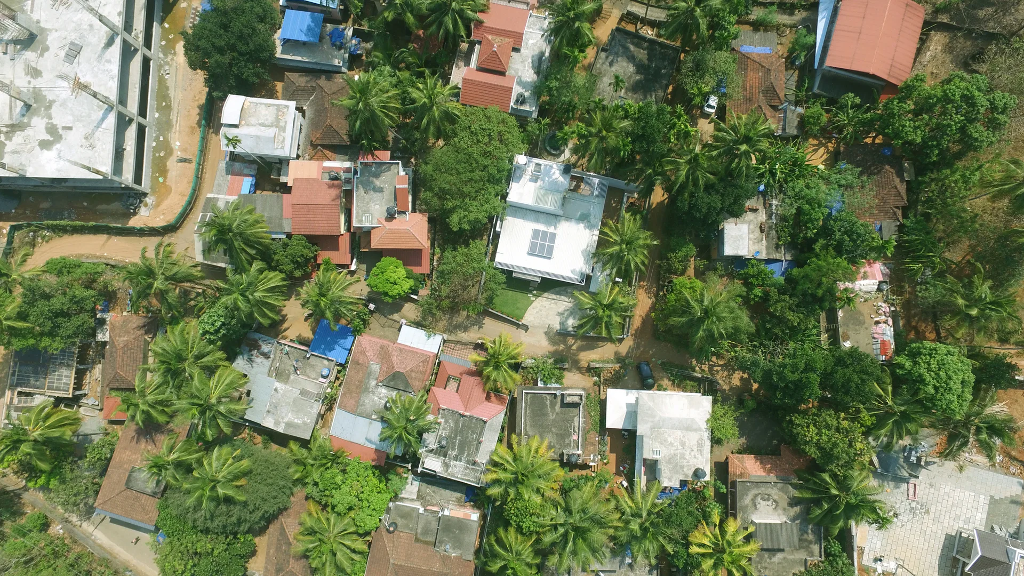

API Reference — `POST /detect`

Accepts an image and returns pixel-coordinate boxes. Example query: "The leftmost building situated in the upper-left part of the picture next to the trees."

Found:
[0,0,166,195]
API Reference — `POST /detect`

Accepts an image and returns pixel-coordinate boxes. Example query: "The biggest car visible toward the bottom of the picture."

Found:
[637,359,658,388]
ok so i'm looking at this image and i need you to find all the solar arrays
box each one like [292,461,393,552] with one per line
[529,229,556,258]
